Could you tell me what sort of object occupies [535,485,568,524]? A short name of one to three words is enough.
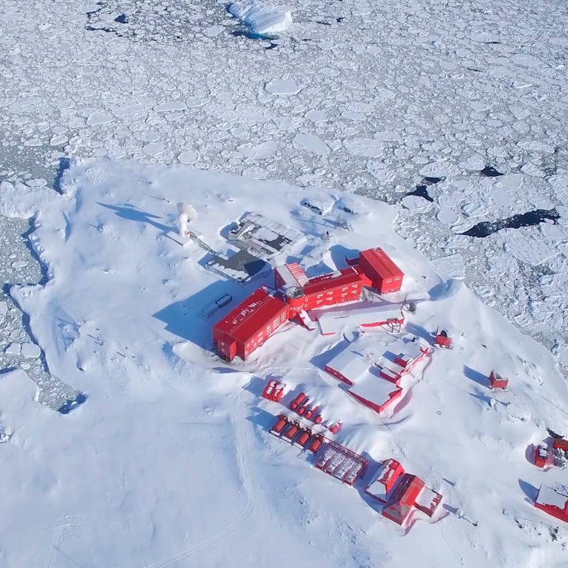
shed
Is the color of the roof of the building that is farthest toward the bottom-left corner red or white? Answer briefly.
red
